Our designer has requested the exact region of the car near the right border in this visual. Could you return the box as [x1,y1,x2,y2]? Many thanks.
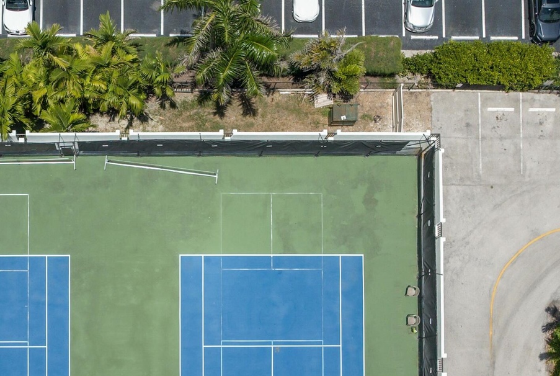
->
[527,0,560,47]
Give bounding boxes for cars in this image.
[289,0,323,26]
[527,0,560,47]
[1,0,35,37]
[402,0,437,35]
